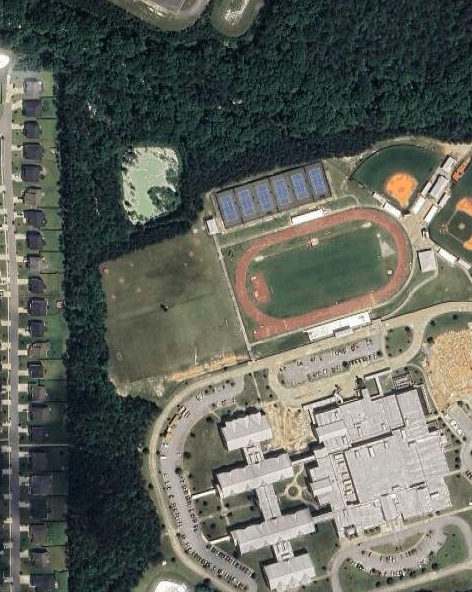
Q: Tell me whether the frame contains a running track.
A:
Yes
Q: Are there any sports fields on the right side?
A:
Yes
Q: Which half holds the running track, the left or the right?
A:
right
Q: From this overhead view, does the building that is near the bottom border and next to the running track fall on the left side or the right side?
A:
right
